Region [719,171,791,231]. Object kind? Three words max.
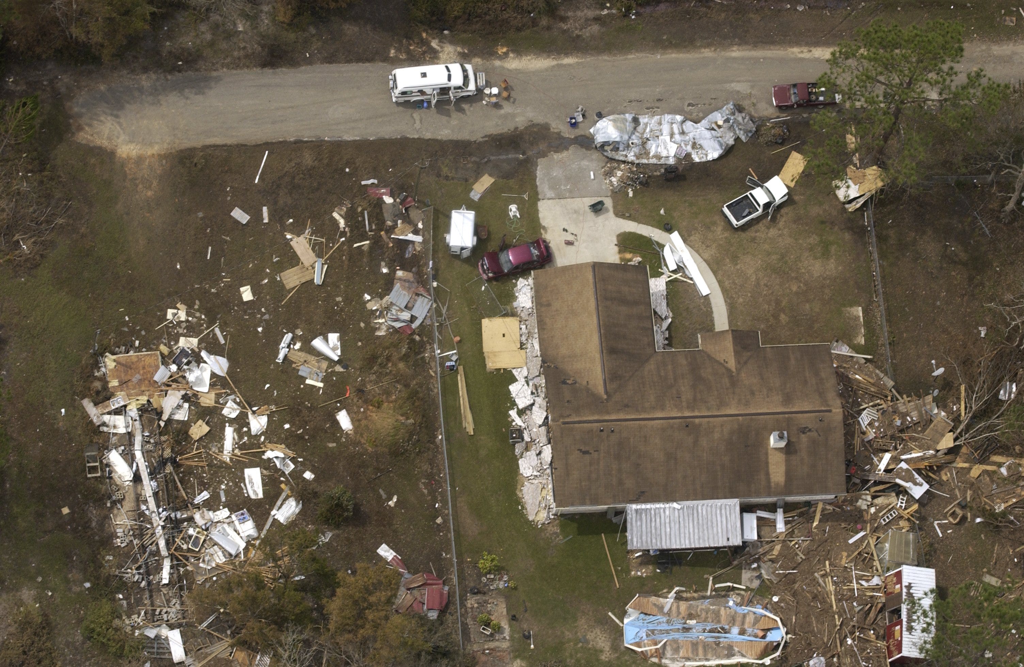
truck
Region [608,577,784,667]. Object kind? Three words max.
swimming pool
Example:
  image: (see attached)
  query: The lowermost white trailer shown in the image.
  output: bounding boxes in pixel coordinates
[445,211,475,262]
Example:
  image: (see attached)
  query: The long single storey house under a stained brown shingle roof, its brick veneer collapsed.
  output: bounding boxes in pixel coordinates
[529,259,850,518]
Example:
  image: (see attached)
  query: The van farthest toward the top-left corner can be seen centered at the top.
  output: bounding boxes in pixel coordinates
[393,63,478,107]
